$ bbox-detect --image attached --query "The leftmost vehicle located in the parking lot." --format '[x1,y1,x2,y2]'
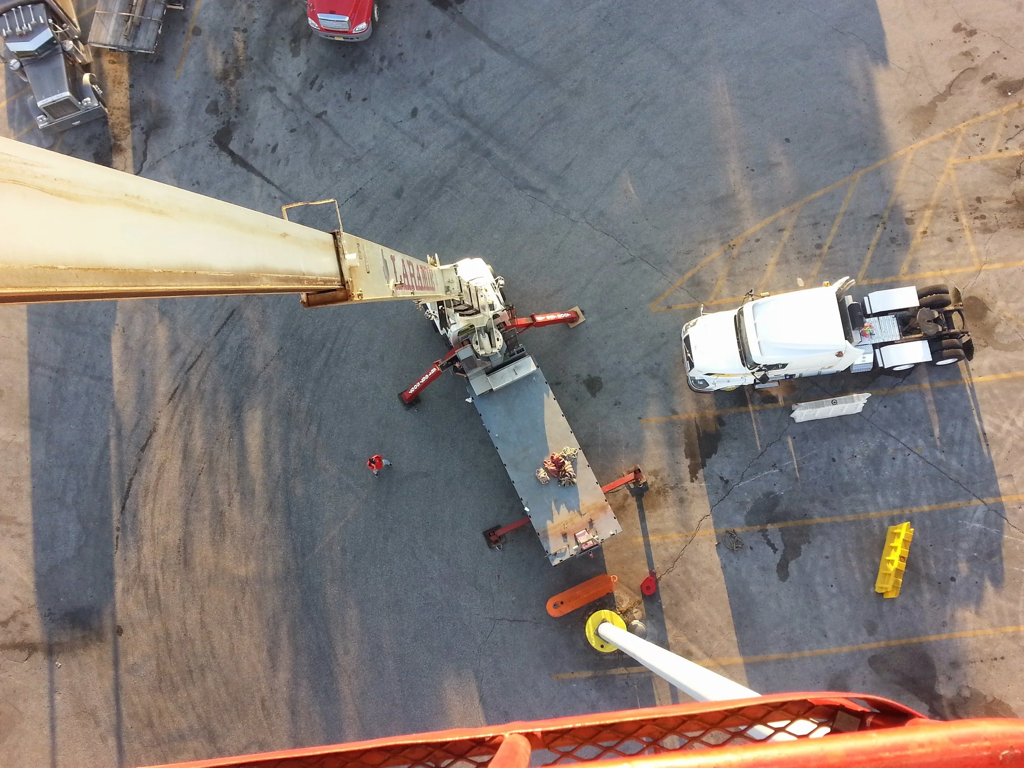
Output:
[0,0,111,133]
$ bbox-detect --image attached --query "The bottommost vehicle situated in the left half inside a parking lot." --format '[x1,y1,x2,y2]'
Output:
[0,121,643,567]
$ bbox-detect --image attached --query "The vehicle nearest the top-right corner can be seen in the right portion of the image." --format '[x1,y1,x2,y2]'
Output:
[671,276,974,396]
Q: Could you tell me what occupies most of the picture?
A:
paved ground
